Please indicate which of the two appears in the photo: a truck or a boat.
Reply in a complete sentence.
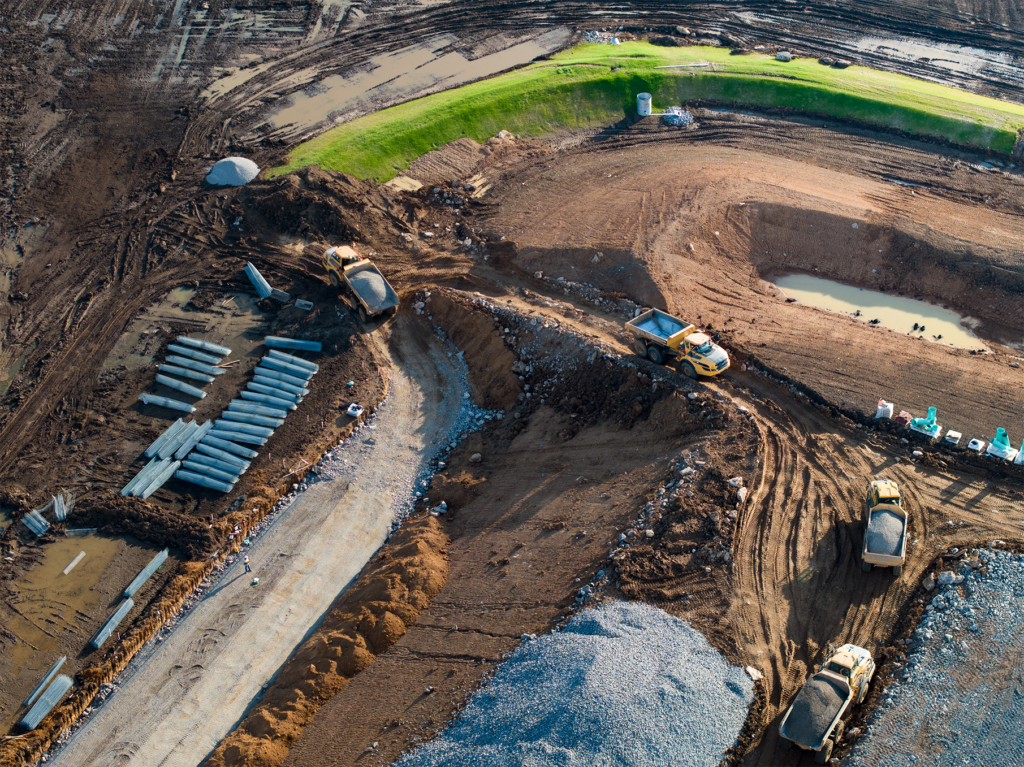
The one in the frame is a truck.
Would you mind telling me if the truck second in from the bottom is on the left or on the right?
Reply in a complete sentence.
The truck second in from the bottom is on the right side of the image.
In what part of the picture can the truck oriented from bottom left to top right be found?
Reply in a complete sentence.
The truck oriented from bottom left to top right is in the bottom right part of the image.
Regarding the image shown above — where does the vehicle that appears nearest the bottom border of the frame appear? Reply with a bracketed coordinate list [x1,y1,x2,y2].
[776,634,881,767]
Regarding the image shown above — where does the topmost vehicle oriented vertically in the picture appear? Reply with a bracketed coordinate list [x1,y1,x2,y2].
[859,473,909,577]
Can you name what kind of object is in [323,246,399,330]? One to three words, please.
truck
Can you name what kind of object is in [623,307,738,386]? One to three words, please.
truck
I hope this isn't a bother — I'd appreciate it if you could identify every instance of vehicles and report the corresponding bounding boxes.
[623,307,738,386]
[776,634,881,767]
[859,473,909,577]
[323,246,399,330]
